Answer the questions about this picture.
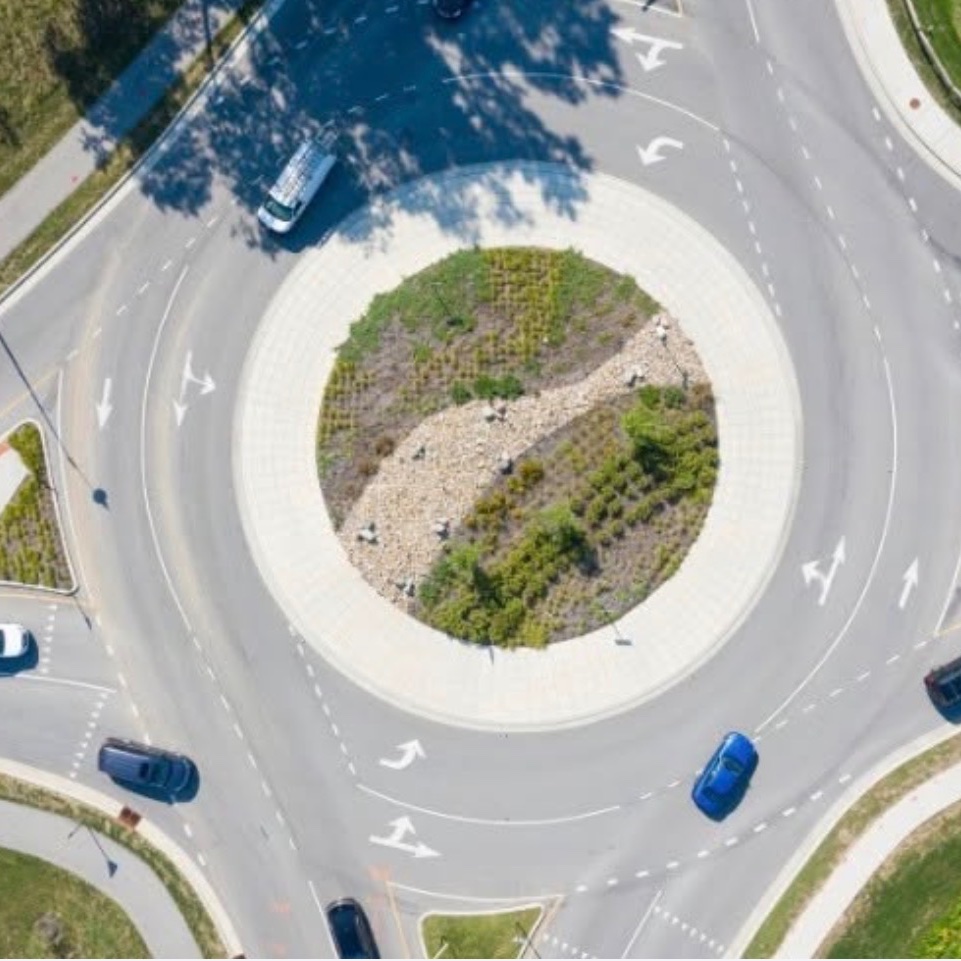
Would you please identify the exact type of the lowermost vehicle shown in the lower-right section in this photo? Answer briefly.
car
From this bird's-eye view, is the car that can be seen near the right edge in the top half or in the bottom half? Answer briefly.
bottom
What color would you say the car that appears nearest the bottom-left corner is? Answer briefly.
blue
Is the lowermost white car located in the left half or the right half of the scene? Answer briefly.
left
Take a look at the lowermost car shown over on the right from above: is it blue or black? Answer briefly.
blue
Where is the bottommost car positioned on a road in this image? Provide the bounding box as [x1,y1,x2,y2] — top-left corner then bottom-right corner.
[326,899,376,961]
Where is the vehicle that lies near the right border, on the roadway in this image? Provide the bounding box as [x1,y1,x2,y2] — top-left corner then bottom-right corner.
[923,662,961,711]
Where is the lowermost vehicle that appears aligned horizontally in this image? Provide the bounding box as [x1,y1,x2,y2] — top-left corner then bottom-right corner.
[99,741,196,798]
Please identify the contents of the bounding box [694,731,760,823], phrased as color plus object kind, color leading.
blue car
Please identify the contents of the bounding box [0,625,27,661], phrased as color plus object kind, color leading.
white car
